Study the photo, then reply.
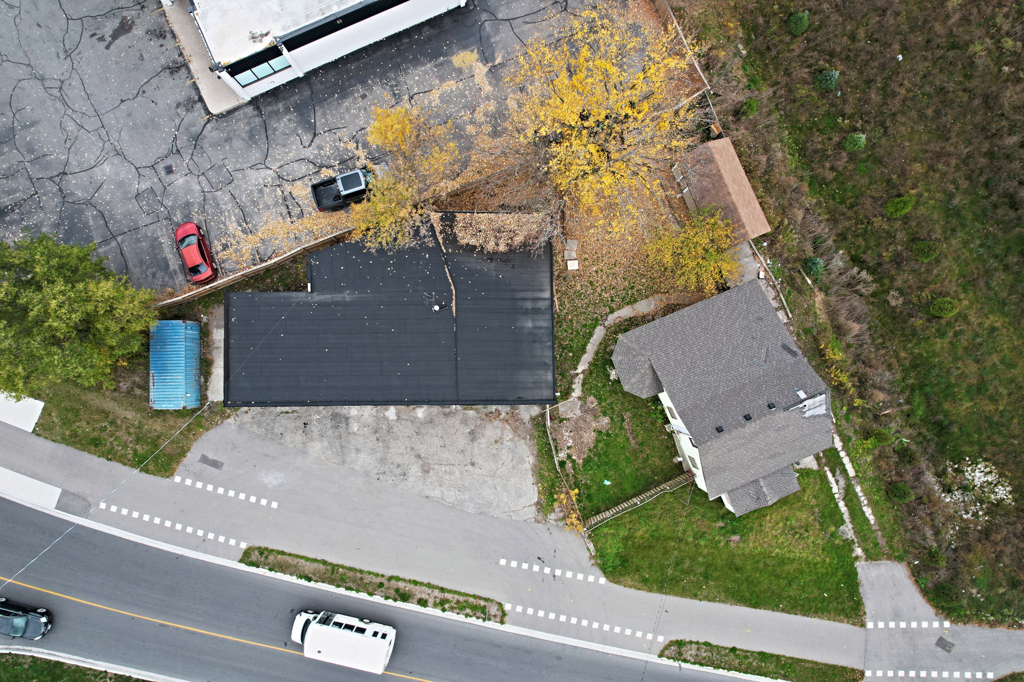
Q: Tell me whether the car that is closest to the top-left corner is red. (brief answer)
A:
Yes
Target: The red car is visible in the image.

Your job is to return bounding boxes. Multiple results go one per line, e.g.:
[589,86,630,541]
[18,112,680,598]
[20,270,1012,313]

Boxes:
[176,222,218,288]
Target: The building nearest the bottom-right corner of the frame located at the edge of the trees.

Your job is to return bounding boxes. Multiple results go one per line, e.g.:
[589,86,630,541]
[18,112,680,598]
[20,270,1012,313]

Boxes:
[611,278,836,517]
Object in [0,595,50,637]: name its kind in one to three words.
car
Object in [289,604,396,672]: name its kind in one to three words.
vehicle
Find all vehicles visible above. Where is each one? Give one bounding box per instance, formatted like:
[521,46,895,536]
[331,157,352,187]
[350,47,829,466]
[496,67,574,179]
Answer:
[176,222,218,288]
[0,595,50,637]
[289,604,396,672]
[309,157,394,210]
